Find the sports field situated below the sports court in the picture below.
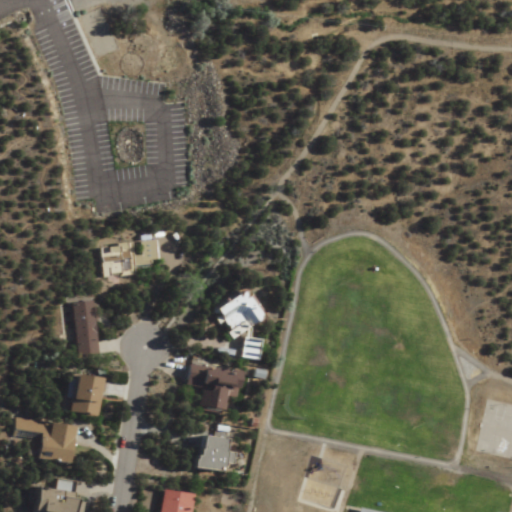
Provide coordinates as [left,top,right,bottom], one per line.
[348,453,512,512]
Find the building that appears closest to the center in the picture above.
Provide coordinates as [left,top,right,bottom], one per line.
[218,291,268,340]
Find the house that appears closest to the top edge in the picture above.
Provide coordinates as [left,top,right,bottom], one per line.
[100,239,160,278]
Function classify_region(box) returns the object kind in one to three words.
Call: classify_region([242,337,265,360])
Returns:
shed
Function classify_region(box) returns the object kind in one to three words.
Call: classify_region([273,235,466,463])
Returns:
sports field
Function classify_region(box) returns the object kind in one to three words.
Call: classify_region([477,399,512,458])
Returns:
sports court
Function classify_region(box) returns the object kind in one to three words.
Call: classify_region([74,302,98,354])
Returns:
house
